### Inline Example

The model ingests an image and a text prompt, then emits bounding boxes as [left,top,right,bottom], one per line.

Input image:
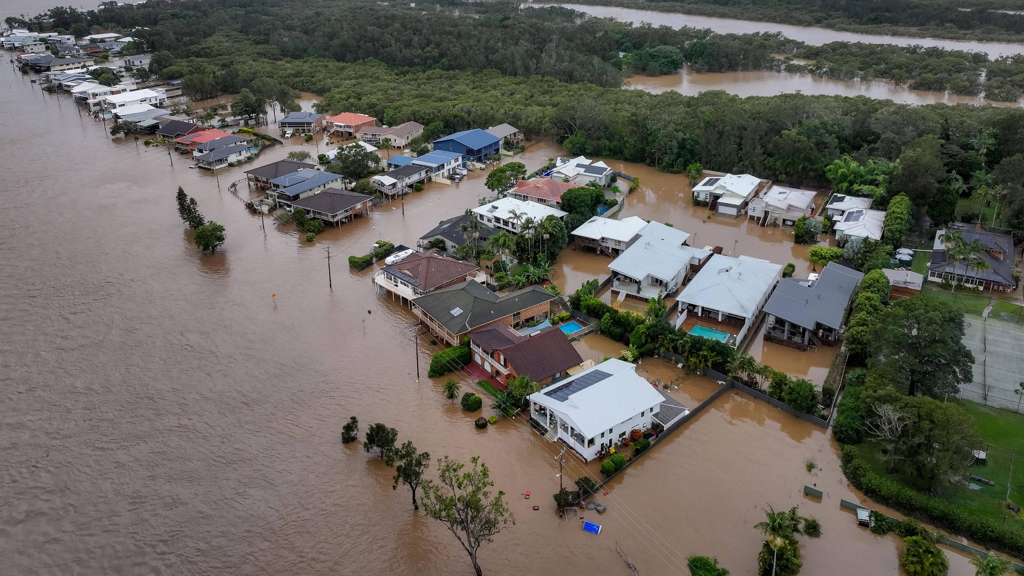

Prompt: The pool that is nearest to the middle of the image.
[557,320,585,334]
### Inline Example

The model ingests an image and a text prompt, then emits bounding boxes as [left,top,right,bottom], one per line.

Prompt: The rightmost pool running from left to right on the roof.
[688,326,730,343]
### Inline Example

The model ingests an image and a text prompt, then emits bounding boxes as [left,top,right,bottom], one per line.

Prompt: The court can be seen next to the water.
[849,294,1024,424]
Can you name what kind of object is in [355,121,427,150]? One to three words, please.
house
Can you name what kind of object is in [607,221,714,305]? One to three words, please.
house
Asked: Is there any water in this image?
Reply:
Yes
